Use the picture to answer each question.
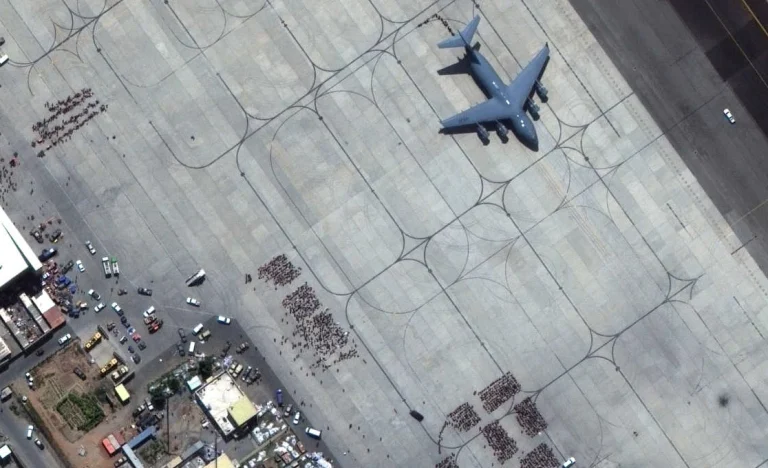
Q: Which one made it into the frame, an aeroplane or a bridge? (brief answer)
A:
aeroplane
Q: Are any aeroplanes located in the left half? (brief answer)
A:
No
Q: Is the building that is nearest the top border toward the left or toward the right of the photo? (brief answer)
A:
left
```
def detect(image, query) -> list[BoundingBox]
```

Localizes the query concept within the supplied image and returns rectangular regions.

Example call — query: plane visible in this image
[436,16,550,147]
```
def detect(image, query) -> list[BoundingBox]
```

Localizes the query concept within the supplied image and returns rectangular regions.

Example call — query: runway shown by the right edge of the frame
[668,0,768,140]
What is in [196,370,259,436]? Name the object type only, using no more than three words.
building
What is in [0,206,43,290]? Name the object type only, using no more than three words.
building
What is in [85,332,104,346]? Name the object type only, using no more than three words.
work vehicle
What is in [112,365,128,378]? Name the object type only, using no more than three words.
vehicle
